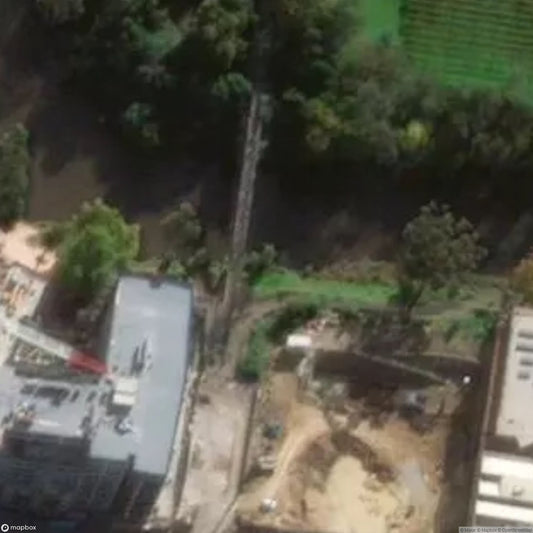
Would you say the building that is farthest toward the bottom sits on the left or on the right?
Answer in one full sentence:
It is on the right.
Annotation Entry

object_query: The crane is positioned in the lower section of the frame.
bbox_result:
[0,315,111,385]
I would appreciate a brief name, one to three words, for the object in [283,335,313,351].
building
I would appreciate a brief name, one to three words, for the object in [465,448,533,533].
building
